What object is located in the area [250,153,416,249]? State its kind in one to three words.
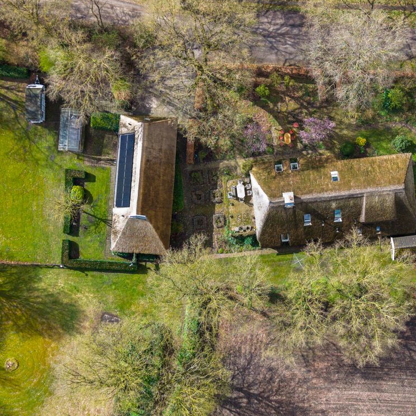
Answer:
house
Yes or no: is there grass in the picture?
Yes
